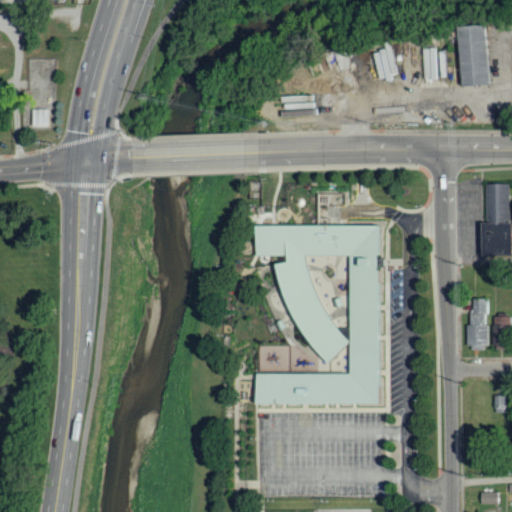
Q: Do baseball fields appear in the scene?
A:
No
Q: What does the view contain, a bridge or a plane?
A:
bridge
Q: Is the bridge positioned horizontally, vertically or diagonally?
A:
horizontally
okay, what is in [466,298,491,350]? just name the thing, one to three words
house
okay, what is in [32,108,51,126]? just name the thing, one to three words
shed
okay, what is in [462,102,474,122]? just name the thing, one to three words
vehicle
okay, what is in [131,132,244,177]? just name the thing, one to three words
bridge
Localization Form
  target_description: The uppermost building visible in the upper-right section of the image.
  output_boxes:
[458,24,492,86]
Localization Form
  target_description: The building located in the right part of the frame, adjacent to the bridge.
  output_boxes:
[256,225,381,404]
